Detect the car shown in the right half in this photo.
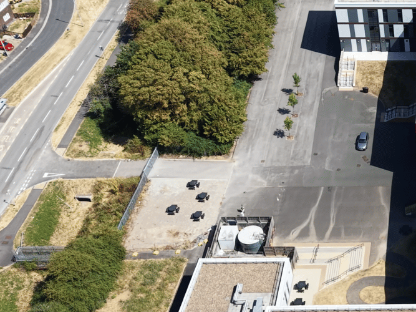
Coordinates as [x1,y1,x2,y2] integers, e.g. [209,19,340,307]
[356,128,369,147]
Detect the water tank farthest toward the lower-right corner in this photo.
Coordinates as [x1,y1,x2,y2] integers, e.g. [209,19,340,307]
[238,227,267,259]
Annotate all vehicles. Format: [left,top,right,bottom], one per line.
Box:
[356,128,369,147]
[0,39,14,51]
